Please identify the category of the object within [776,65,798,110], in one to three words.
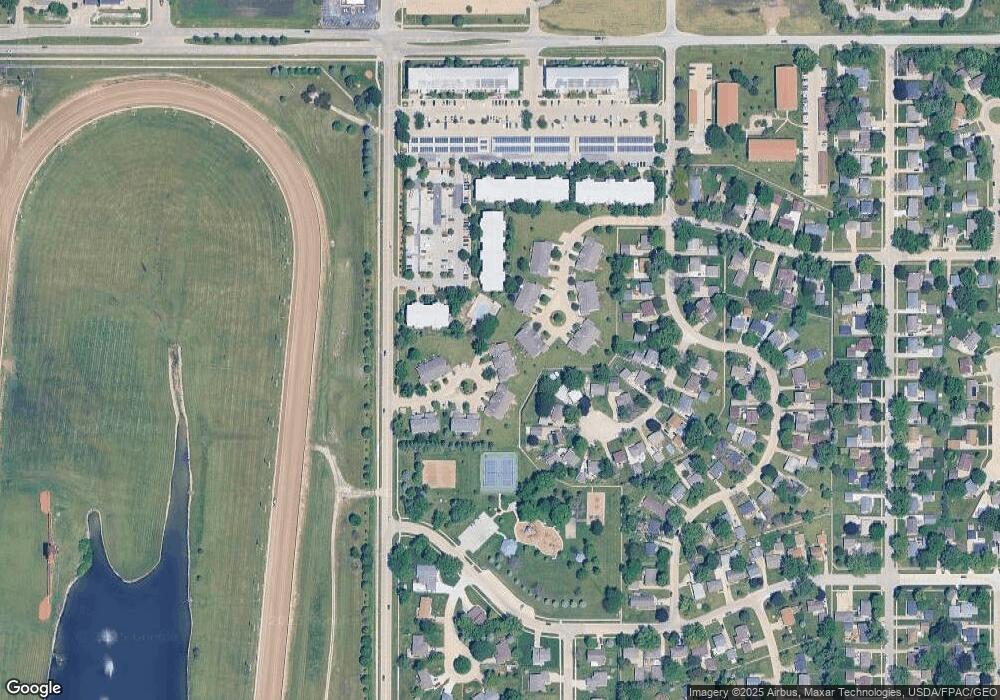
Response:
building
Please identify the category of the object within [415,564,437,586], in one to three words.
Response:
house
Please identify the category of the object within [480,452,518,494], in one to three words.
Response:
tennis court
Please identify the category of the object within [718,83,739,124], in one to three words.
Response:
building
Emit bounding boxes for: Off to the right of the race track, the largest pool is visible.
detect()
[468,294,500,328]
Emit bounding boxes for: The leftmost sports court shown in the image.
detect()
[422,459,457,488]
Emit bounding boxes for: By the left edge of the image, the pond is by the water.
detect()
[44,418,190,700]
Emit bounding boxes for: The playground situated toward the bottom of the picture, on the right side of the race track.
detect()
[514,520,563,559]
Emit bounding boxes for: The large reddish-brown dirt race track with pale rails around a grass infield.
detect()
[0,74,329,700]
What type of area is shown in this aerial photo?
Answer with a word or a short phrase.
sports ground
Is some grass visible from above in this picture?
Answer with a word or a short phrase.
Yes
